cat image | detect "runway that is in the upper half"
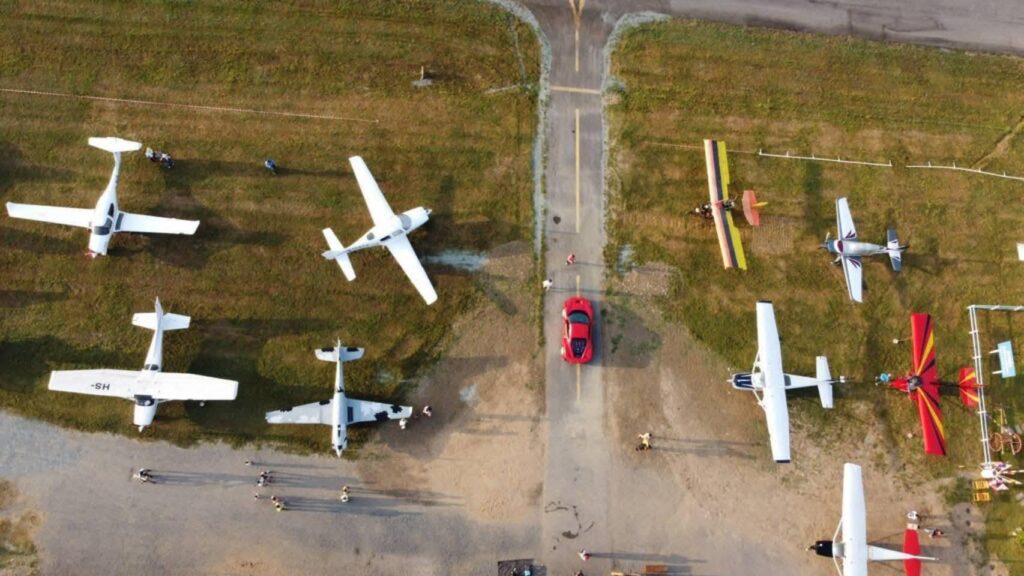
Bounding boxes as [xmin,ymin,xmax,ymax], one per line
[549,0,1024,50]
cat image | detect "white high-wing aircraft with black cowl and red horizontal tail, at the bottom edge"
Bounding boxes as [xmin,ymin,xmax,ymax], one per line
[803,464,936,576]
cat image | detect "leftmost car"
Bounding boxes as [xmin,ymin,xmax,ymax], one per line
[562,297,596,367]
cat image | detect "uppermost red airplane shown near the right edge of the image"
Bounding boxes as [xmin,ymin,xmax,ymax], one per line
[883,313,993,454]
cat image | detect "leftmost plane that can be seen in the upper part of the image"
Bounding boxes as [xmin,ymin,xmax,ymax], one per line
[7,133,196,260]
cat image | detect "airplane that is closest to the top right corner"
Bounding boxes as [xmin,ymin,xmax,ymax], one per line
[817,197,914,303]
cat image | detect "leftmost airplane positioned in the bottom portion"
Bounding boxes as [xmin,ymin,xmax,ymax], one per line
[48,296,238,433]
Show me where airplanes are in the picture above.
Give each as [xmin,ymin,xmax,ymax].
[803,464,936,576]
[883,313,993,454]
[7,133,196,260]
[266,336,411,458]
[319,156,435,304]
[48,296,238,433]
[817,197,914,303]
[685,142,772,268]
[726,301,852,462]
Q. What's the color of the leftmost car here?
red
